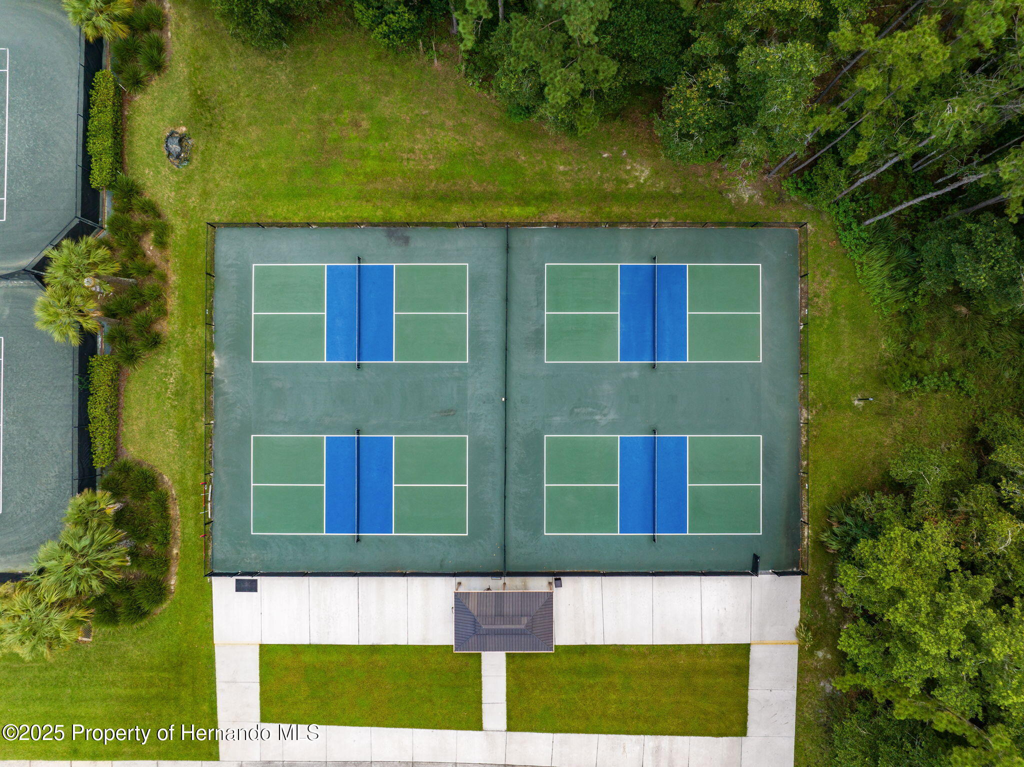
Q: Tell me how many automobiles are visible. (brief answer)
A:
0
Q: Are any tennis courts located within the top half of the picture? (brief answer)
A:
Yes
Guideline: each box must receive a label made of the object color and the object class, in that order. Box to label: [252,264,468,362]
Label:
green sports court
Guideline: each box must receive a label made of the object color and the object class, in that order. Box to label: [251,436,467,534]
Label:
green sports court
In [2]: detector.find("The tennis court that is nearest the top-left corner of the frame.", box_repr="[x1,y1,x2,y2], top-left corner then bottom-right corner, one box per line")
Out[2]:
[0,0,105,273]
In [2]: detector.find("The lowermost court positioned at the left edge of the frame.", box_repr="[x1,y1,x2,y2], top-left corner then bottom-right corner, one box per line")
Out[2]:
[0,278,99,572]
